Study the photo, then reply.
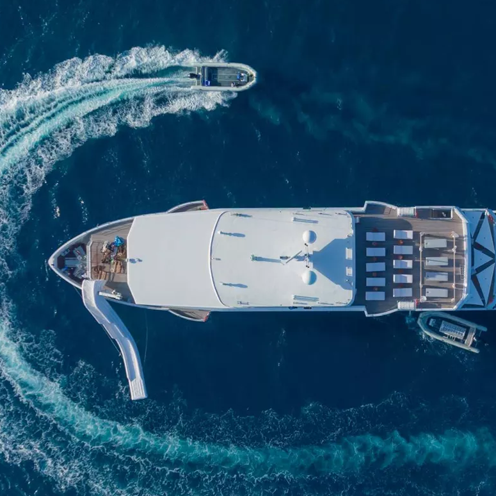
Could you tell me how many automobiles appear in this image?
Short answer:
zero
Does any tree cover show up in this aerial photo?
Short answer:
No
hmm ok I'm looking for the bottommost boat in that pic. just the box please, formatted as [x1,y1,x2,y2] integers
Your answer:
[418,312,488,353]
